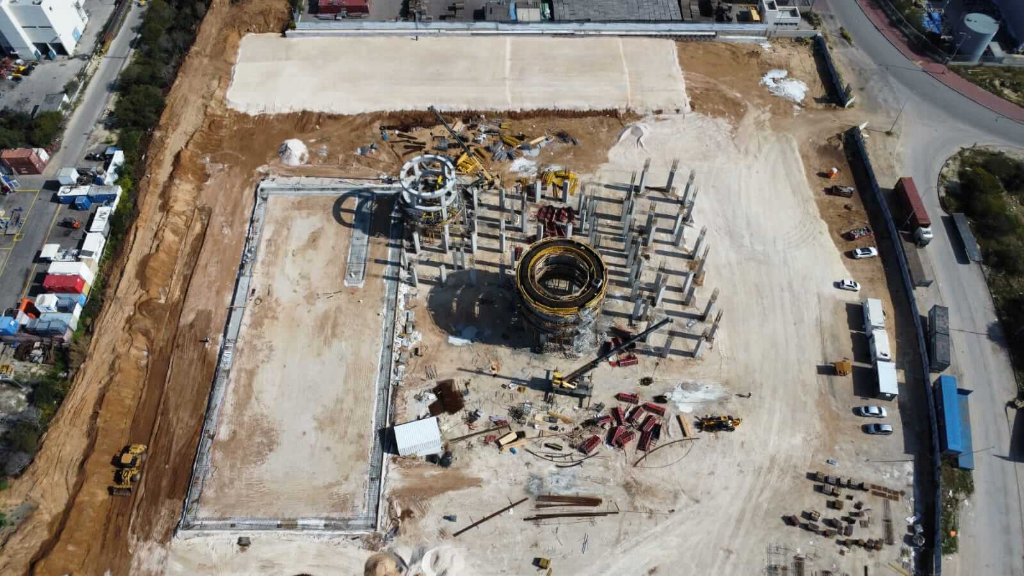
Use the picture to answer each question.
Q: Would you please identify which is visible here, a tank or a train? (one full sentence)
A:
The image shows a tank.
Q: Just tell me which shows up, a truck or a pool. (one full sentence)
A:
This aerial view contains a truck.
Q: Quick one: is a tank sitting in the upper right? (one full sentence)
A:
Yes, I can see a tank in the upper right.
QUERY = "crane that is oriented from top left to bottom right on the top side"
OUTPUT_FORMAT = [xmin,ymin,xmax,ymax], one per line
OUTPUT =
[424,105,519,203]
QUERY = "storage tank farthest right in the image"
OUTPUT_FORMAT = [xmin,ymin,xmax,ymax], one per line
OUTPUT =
[939,9,1003,68]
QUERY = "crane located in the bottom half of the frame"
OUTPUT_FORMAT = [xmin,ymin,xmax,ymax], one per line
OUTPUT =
[542,319,677,407]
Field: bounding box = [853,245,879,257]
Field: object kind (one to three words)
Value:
vehicle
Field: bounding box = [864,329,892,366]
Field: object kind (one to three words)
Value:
building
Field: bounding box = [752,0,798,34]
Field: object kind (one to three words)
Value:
building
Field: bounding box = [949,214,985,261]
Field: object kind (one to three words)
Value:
trailer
